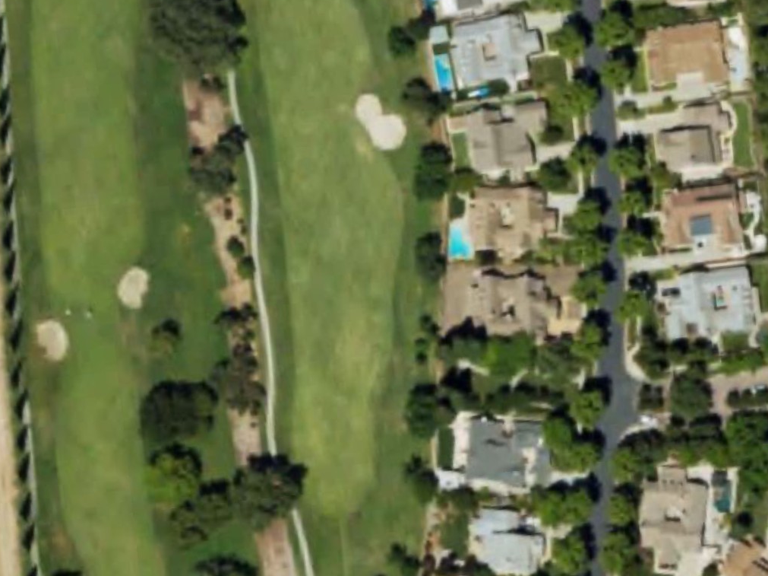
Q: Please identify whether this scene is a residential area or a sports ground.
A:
residential area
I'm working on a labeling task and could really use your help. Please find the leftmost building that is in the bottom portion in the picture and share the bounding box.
[439,470,464,489]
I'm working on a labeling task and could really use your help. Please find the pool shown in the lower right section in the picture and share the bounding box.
[715,470,732,512]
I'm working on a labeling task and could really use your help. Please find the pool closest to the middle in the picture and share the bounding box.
[450,224,472,259]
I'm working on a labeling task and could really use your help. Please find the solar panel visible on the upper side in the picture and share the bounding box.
[692,216,713,235]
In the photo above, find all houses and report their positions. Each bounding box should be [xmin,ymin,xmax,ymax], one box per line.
[448,14,545,88]
[466,276,558,343]
[466,189,559,259]
[664,182,741,251]
[641,462,709,572]
[661,265,755,337]
[465,102,547,182]
[658,101,735,170]
[471,506,544,576]
[726,540,768,576]
[643,19,732,87]
[465,418,552,487]
[442,0,485,20]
